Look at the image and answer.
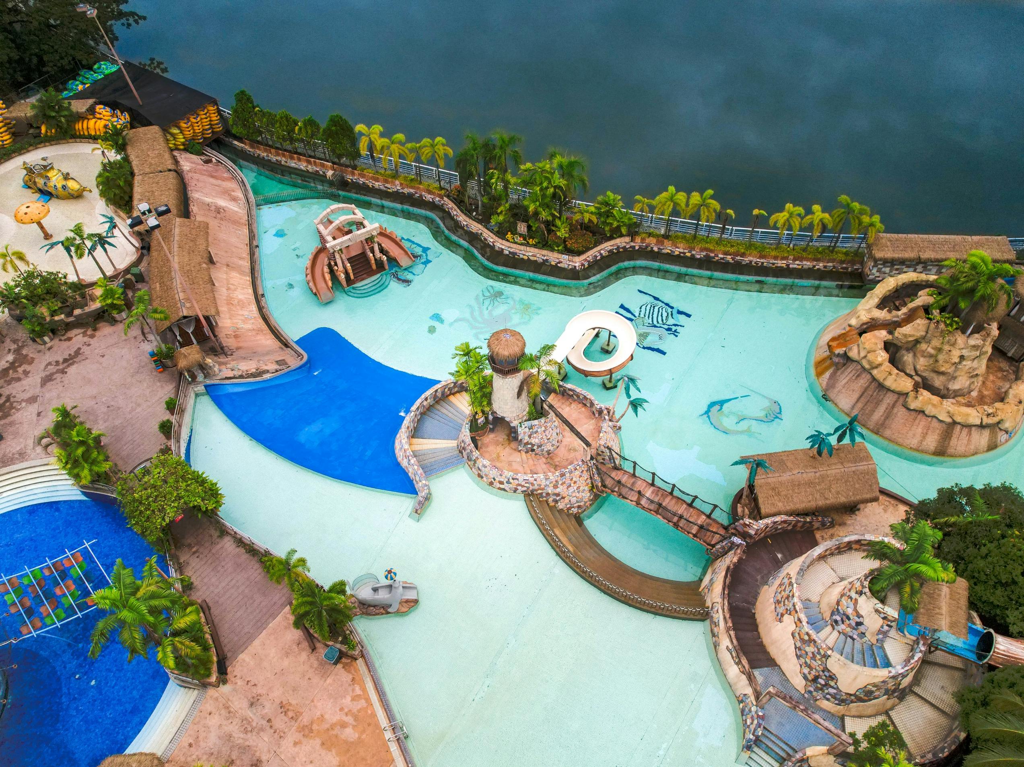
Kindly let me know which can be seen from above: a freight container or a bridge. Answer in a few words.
bridge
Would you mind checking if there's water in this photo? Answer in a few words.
Yes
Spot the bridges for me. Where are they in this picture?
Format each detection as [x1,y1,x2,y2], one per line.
[594,447,737,548]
